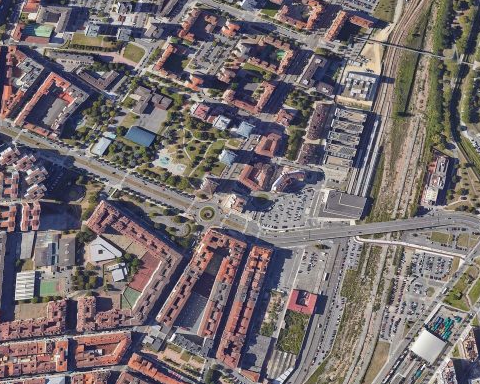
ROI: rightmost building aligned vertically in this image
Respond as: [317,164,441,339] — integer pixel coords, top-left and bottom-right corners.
[463,328,479,363]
